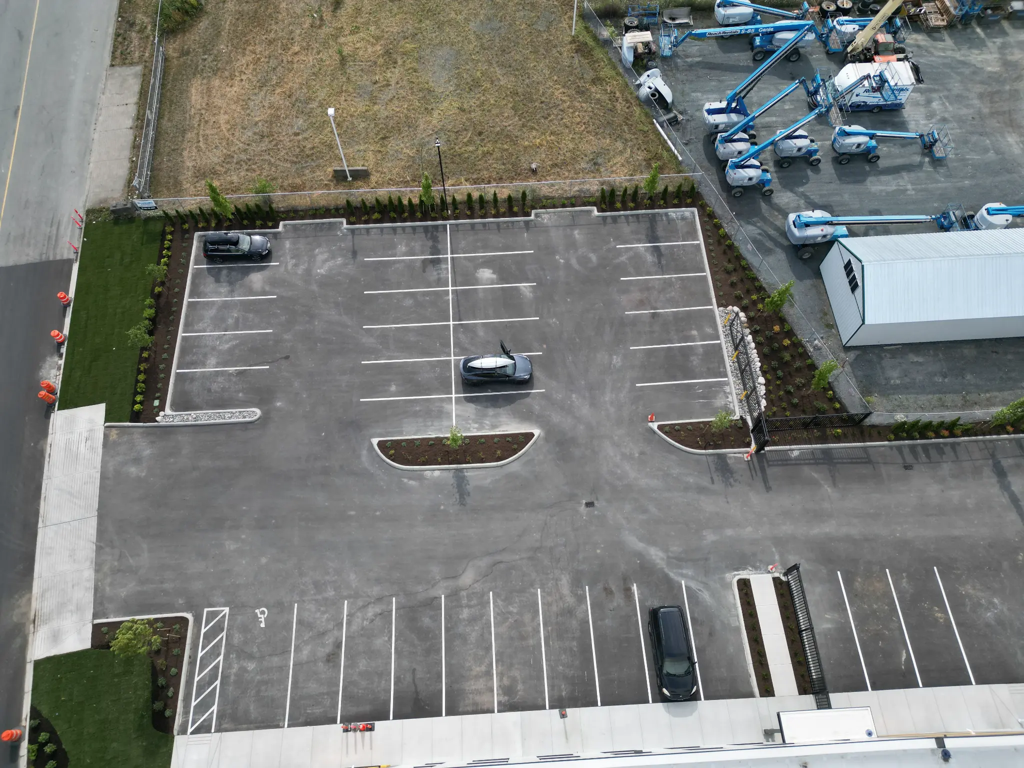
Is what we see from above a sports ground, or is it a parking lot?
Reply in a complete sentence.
It's a parking lot.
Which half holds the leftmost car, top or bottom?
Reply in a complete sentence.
The top half of the photo is where the leftmost car is.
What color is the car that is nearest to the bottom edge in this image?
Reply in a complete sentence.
The car that is nearest to the bottom edge looks black in the image.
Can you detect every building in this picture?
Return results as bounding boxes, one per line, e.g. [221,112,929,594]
[819,230,1024,347]
[351,705,1024,768]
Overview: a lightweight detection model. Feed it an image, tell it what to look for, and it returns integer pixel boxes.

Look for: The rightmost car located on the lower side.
[648,605,699,703]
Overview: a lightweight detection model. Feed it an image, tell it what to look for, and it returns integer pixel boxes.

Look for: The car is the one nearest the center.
[460,337,533,388]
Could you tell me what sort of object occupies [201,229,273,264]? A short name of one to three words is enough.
car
